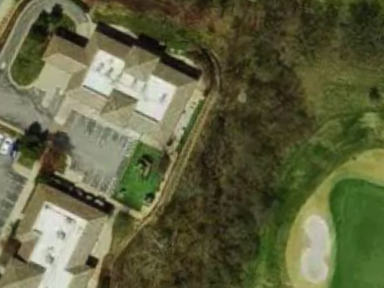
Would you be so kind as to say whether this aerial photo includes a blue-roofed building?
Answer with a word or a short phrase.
No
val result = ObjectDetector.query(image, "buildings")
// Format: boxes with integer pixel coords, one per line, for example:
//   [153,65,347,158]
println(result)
[0,183,110,288]
[44,28,199,152]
